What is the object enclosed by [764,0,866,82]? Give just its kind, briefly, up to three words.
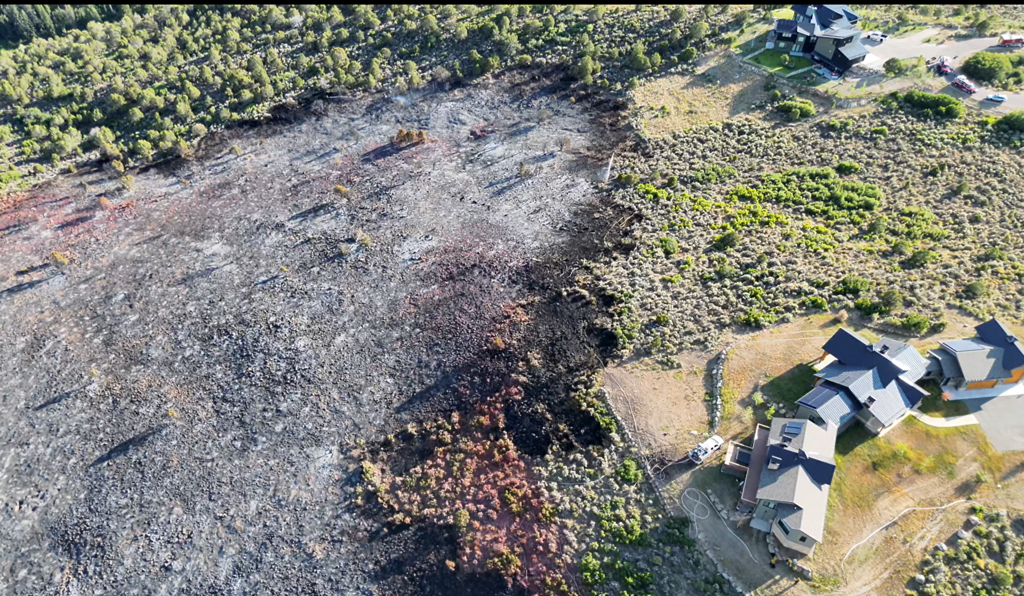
house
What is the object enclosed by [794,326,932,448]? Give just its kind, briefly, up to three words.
house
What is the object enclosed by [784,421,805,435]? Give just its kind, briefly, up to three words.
solar panel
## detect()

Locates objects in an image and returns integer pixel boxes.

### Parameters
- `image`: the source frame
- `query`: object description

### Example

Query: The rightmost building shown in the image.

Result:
[918,318,1024,393]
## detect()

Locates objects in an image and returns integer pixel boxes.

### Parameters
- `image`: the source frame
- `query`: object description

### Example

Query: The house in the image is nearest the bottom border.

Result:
[720,418,843,555]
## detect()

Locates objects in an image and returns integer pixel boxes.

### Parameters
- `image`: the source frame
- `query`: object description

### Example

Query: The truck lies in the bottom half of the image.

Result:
[687,433,729,463]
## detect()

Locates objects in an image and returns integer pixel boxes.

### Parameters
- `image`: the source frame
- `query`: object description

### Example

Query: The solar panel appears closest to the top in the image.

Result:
[943,340,984,352]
